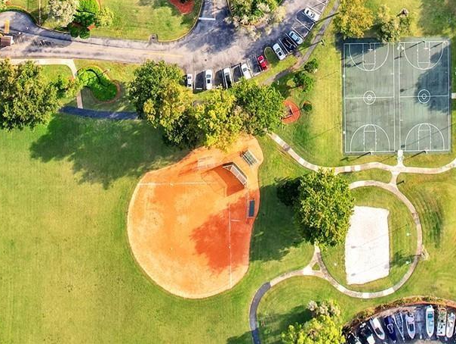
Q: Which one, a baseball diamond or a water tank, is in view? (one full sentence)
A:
There is a baseball diamond in the scene.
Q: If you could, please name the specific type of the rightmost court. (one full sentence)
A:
It turns out the rightmost court is a basketball court.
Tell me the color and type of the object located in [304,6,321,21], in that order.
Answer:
white car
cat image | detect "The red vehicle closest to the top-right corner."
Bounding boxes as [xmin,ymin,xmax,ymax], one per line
[255,52,271,73]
